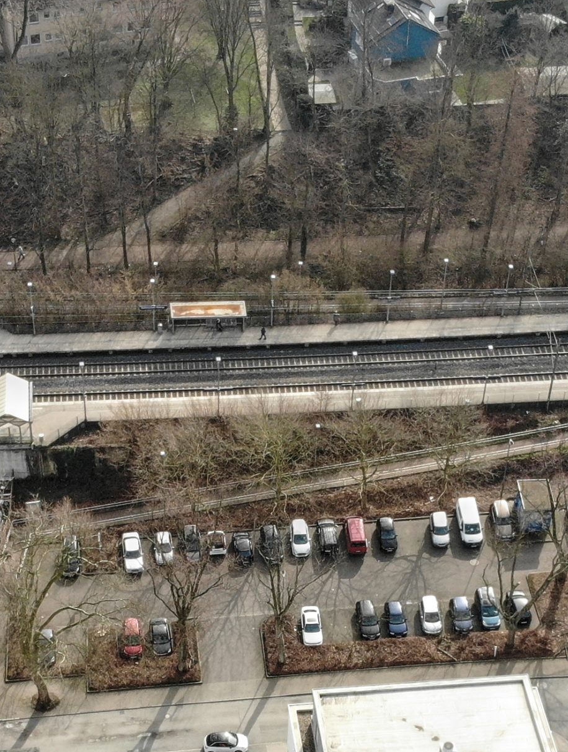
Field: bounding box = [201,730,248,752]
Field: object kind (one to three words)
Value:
car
